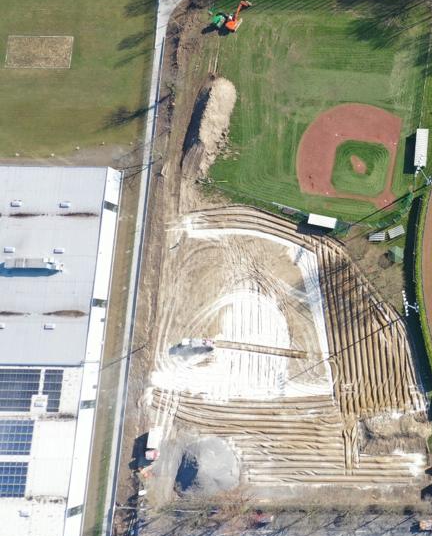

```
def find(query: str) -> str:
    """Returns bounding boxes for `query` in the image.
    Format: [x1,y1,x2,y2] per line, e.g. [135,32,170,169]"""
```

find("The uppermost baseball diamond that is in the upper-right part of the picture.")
[203,0,432,223]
